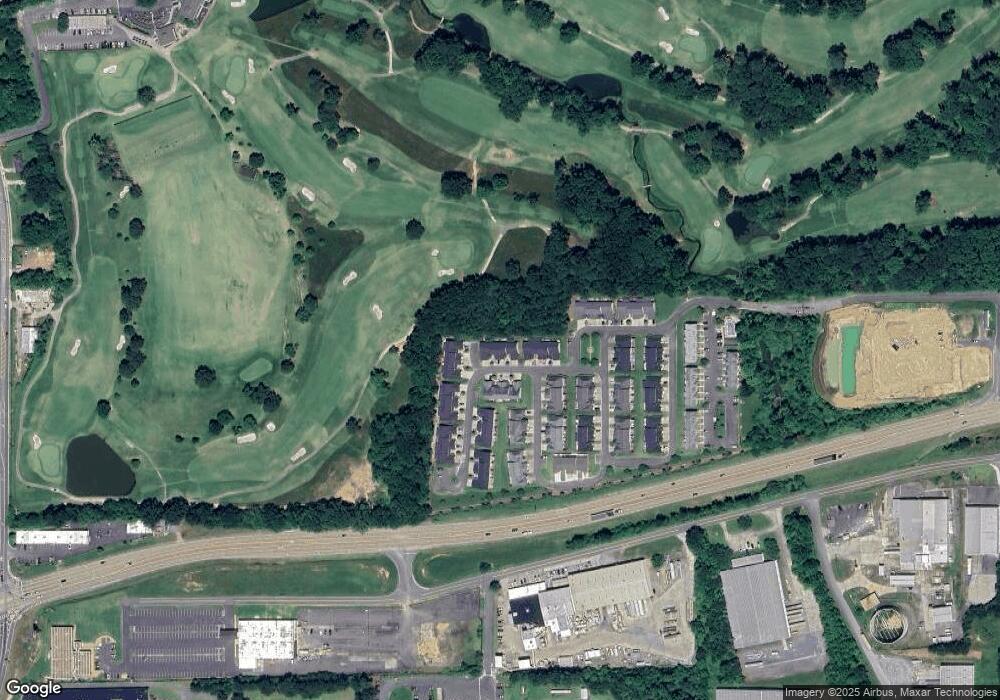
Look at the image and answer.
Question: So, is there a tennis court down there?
No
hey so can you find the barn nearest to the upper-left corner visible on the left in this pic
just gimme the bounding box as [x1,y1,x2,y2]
[68,16,106,29]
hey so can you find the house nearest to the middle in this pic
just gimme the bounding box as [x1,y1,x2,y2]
[479,341,519,362]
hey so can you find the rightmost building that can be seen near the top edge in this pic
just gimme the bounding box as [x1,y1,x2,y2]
[156,23,179,47]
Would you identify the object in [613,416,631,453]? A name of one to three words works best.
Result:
house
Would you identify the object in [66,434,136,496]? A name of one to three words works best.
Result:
pond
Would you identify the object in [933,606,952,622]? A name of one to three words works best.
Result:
shed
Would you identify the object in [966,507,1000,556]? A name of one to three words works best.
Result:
building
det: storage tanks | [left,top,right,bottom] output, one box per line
[870,607,908,644]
